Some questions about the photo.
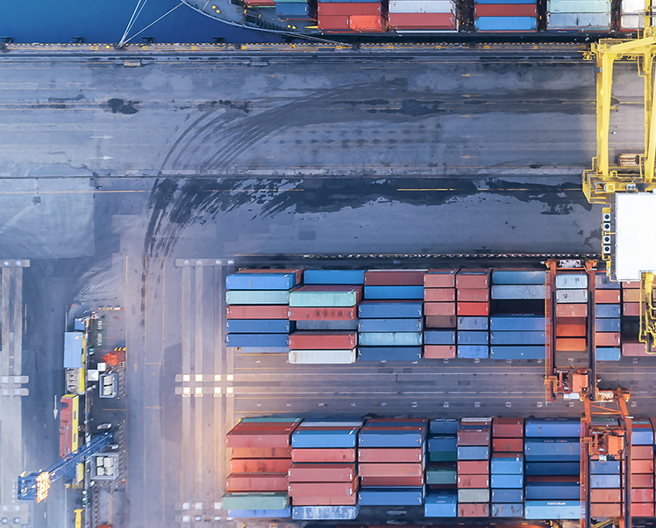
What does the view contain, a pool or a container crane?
container crane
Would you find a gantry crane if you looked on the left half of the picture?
No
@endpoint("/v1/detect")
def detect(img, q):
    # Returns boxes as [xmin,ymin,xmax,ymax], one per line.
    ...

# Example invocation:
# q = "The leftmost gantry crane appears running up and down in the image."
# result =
[543,260,600,406]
